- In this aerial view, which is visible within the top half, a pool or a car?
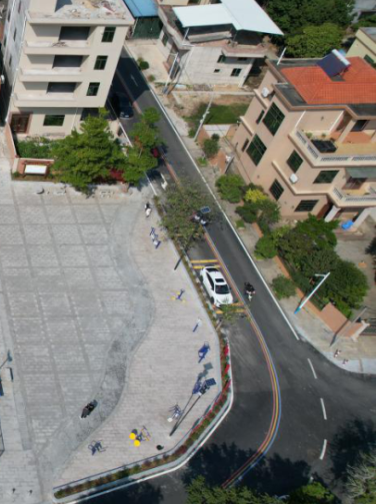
car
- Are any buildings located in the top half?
Yes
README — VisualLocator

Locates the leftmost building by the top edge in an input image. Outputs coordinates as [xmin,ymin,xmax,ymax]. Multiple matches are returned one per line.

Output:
[0,0,137,135]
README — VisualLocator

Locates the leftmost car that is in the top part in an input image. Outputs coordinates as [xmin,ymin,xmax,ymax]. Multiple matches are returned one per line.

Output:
[115,96,140,121]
